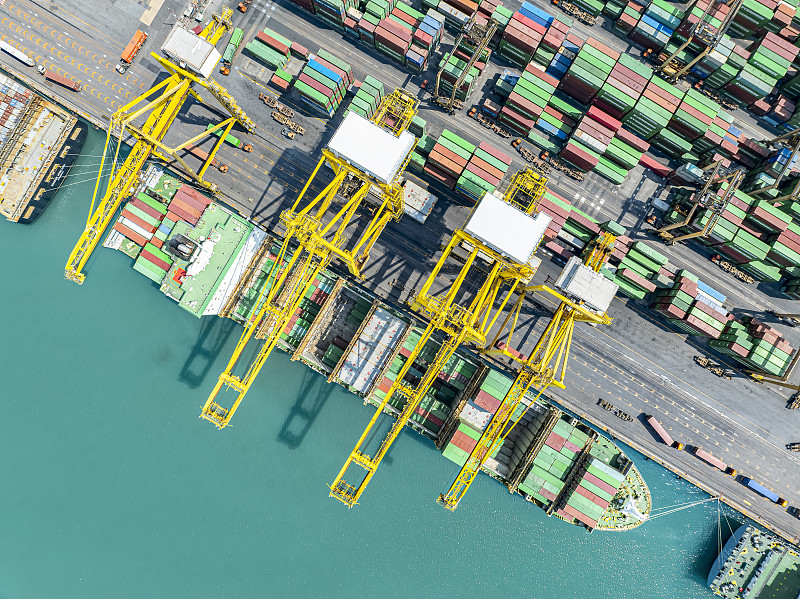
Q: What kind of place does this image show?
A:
port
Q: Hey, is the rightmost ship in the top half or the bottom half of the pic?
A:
bottom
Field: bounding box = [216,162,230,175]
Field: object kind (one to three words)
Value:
vehicle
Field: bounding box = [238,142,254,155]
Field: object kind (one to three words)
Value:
vehicle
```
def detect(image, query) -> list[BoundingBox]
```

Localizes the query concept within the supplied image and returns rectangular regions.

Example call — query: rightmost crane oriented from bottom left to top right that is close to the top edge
[654,0,746,84]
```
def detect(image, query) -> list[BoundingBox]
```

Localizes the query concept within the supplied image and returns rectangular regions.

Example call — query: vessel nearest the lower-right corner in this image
[708,522,800,599]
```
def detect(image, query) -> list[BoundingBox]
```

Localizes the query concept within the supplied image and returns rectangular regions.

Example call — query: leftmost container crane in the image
[54,3,261,288]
